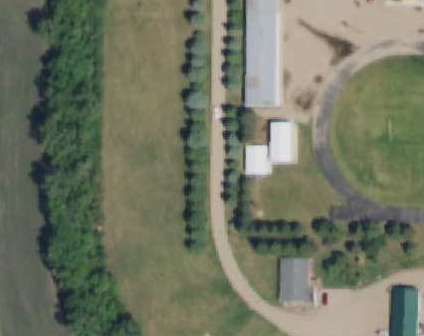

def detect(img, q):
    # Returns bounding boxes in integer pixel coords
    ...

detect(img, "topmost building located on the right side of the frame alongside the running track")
[246,0,280,105]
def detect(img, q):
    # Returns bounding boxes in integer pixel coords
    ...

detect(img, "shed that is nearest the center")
[246,144,266,174]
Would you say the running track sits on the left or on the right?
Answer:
right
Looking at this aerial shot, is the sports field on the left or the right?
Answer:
right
